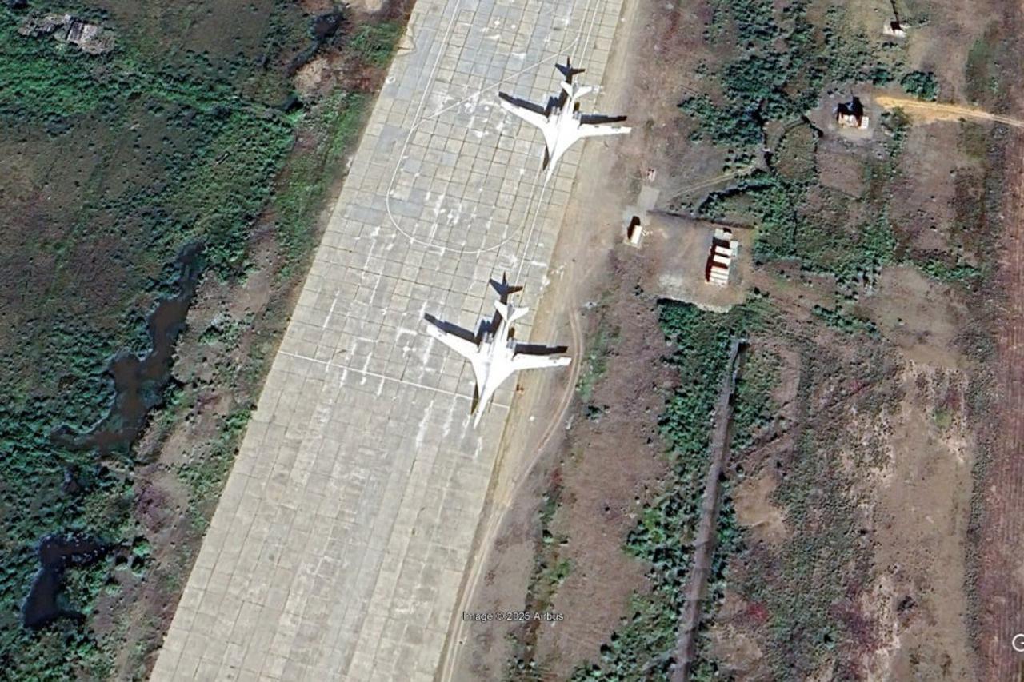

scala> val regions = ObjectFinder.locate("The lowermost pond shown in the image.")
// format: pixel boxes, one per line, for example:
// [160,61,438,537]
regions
[22,533,111,627]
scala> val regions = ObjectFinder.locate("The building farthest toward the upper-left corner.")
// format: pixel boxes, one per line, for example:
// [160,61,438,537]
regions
[22,13,98,44]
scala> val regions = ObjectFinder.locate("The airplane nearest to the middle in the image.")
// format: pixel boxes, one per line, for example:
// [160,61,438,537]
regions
[427,299,573,429]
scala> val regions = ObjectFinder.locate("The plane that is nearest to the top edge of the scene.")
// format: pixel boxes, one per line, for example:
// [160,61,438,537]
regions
[500,77,632,186]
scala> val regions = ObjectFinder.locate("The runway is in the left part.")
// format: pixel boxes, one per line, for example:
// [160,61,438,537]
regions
[152,0,621,682]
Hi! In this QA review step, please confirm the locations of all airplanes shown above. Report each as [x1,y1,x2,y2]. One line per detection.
[427,299,573,429]
[500,77,632,186]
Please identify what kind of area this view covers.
airport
